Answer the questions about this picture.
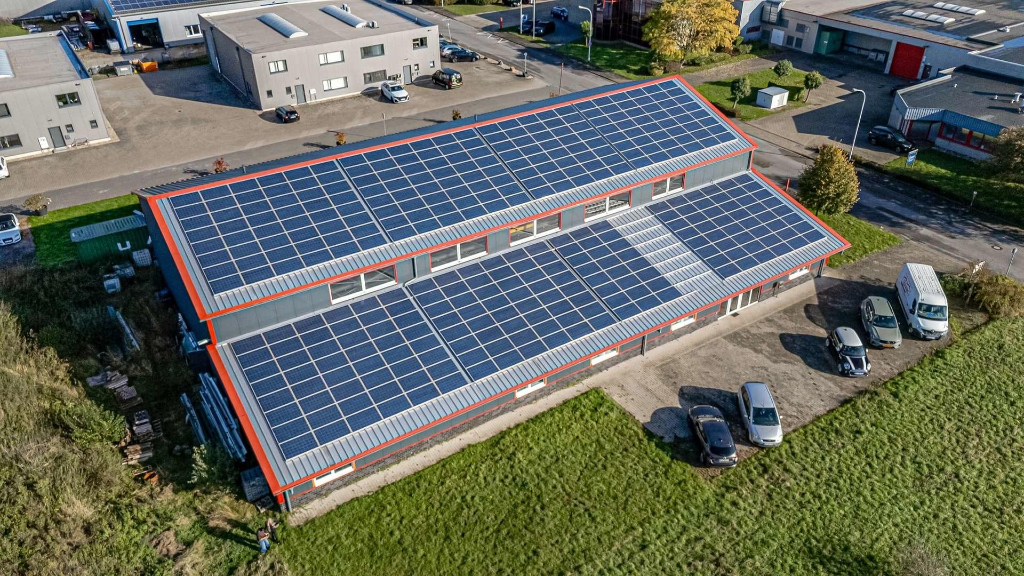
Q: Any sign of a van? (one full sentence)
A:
Yes, the frame does contain a van.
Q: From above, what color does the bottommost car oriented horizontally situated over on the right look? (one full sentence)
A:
The bottommost car oriented horizontally situated over on the right is black.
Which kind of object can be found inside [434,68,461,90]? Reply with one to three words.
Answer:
vehicle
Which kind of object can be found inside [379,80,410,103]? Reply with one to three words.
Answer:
car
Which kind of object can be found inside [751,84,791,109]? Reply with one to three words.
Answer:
shed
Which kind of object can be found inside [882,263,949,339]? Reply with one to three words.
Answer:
van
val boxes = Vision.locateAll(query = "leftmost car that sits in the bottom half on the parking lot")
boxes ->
[685,401,733,467]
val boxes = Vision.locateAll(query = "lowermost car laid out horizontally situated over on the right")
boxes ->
[861,126,914,156]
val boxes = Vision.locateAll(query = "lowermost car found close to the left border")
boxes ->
[0,213,25,246]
